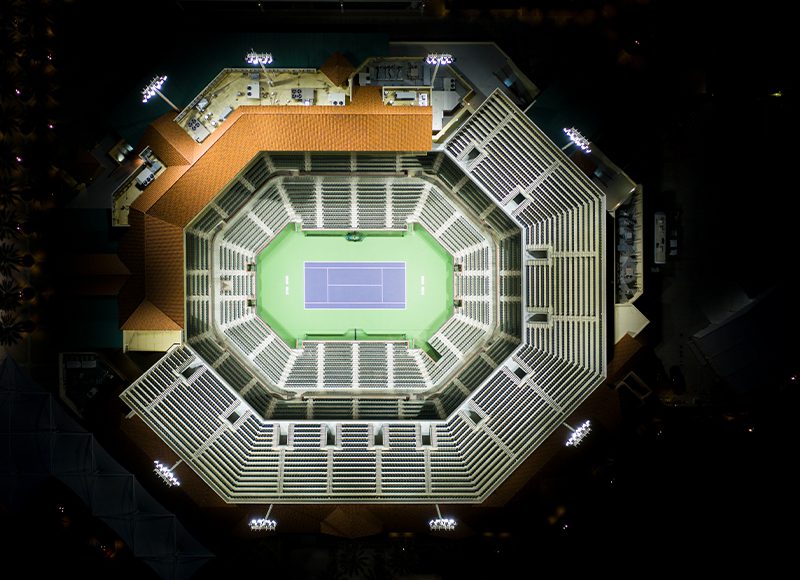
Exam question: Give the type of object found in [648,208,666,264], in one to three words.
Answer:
trailer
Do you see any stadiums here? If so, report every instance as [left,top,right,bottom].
[116,85,607,503]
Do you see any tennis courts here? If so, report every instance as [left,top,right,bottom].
[255,218,455,360]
